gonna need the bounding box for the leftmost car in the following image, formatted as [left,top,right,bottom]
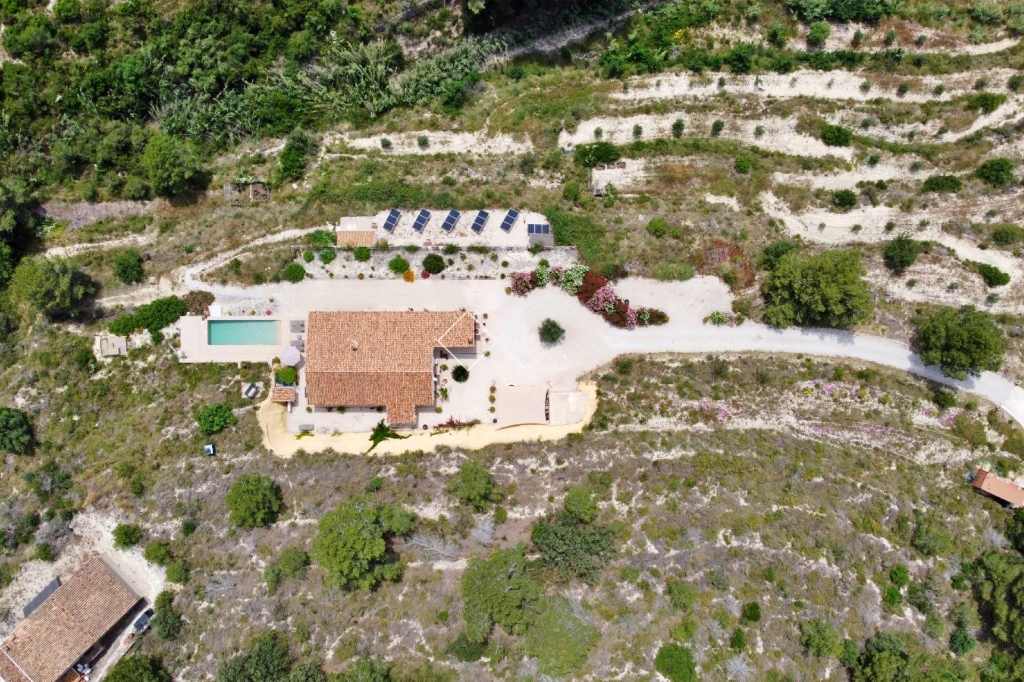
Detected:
[131,608,158,633]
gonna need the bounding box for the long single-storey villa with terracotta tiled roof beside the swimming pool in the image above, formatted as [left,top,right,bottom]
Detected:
[305,311,476,424]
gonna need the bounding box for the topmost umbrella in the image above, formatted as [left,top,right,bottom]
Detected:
[282,344,301,363]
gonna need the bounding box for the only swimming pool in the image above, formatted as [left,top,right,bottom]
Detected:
[205,317,283,347]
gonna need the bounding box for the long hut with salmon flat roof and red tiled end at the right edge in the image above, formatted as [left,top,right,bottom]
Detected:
[967,469,1024,508]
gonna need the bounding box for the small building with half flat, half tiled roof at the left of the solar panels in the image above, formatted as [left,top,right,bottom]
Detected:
[336,216,379,246]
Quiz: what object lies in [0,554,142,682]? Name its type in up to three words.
house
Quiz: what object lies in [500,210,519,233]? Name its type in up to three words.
solar array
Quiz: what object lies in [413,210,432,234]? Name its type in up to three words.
solar array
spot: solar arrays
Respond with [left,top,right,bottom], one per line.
[442,210,461,234]
[500,210,519,233]
[528,224,549,234]
[471,210,490,234]
[383,210,402,233]
[413,210,432,234]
